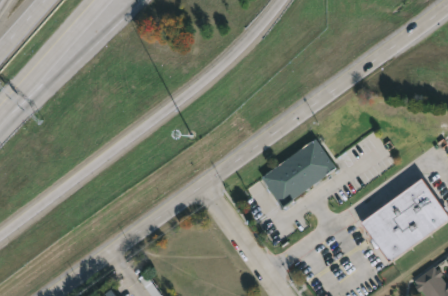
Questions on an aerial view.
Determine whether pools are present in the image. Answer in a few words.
No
